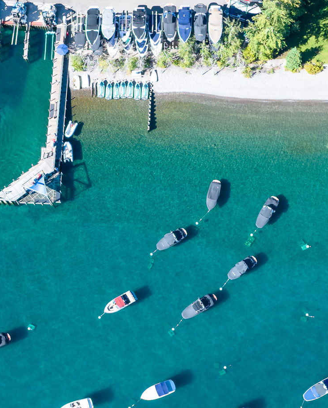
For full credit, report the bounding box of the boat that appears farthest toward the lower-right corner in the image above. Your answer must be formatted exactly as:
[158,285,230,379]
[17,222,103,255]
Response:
[303,379,328,401]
